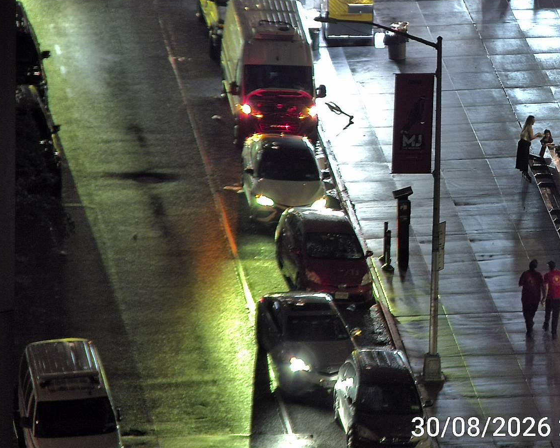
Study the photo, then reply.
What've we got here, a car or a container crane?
car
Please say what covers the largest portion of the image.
paved ground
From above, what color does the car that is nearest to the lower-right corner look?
black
